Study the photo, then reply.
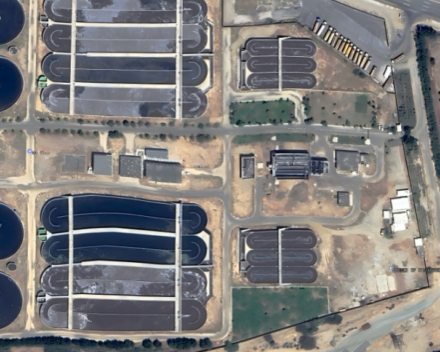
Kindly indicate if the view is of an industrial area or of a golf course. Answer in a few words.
industrial area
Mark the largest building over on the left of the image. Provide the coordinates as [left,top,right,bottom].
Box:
[144,160,182,184]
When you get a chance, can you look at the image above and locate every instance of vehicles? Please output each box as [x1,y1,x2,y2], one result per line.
[364,56,373,71]
[331,33,339,46]
[360,52,369,69]
[335,35,344,49]
[392,53,405,63]
[349,46,357,60]
[339,38,347,51]
[324,27,333,41]
[353,48,361,63]
[328,29,337,43]
[356,51,364,66]
[314,17,320,33]
[370,66,378,76]
[345,43,354,57]
[342,39,350,54]
[317,21,327,35]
